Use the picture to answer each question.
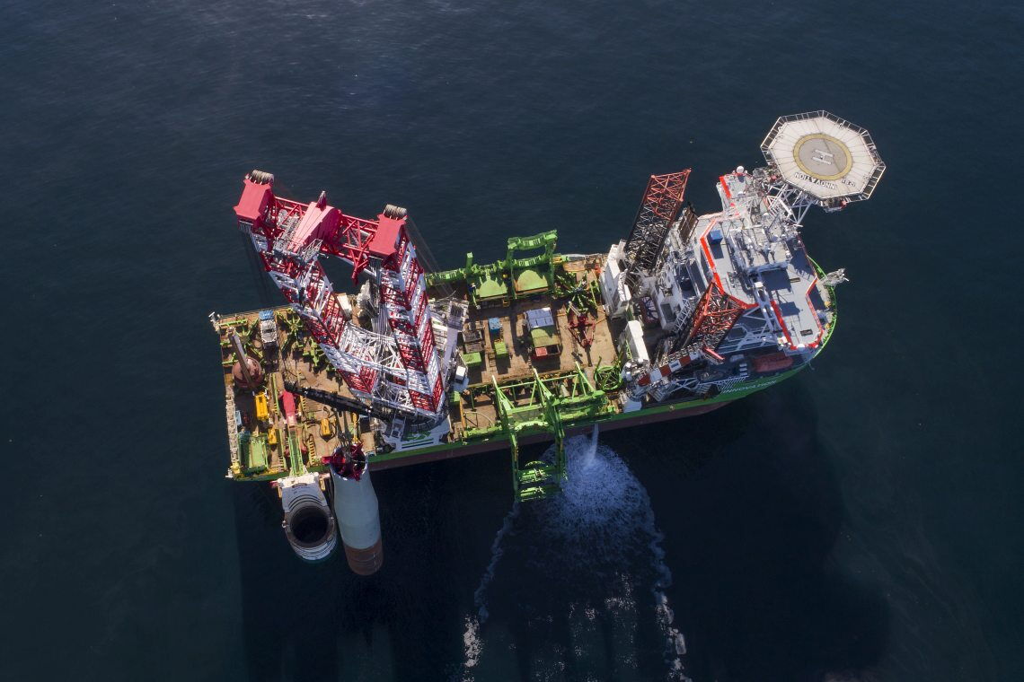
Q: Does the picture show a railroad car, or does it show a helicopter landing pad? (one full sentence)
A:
I can see a helicopter landing pad in this picture.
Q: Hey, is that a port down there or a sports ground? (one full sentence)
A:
What you see here is a port.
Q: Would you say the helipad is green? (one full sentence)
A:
No, the helipad is white.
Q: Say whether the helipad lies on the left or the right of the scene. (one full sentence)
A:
The helipad is on the right side of the image.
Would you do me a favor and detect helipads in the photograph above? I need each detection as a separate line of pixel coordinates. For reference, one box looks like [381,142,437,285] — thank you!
[760,111,888,264]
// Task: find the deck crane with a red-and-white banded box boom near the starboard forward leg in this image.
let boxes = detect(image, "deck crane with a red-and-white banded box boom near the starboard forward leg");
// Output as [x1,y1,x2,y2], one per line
[620,339,716,410]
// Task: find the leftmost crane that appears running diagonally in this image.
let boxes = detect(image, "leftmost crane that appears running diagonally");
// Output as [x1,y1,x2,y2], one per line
[230,168,470,451]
